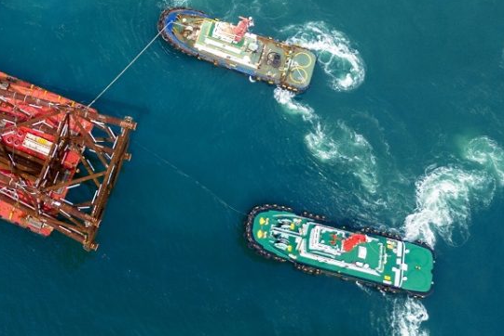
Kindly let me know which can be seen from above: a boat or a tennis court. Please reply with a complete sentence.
The image shows a boat.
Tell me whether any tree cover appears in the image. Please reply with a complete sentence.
No, there is no tree cover in the image.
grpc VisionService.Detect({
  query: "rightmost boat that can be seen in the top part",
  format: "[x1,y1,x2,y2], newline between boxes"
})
[159,4,312,93]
